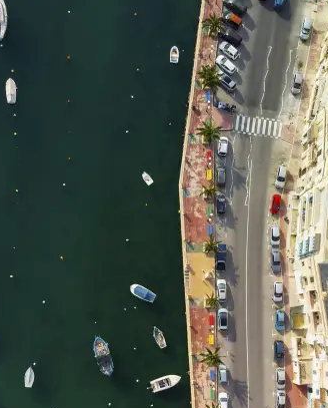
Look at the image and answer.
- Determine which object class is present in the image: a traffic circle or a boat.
boat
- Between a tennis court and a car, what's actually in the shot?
car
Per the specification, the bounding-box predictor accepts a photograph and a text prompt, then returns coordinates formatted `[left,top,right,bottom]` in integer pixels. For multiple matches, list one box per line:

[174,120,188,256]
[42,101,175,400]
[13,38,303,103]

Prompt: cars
[274,341,285,362]
[218,309,229,331]
[272,282,283,302]
[218,56,237,74]
[271,250,281,272]
[275,391,286,408]
[219,41,240,60]
[270,226,281,246]
[217,195,227,214]
[218,365,228,385]
[223,12,242,29]
[275,368,286,388]
[275,167,286,187]
[225,0,246,14]
[218,280,227,302]
[219,393,228,408]
[274,311,285,330]
[217,166,227,187]
[270,194,281,215]
[221,28,242,47]
[218,137,229,156]
[300,19,312,40]
[292,74,302,94]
